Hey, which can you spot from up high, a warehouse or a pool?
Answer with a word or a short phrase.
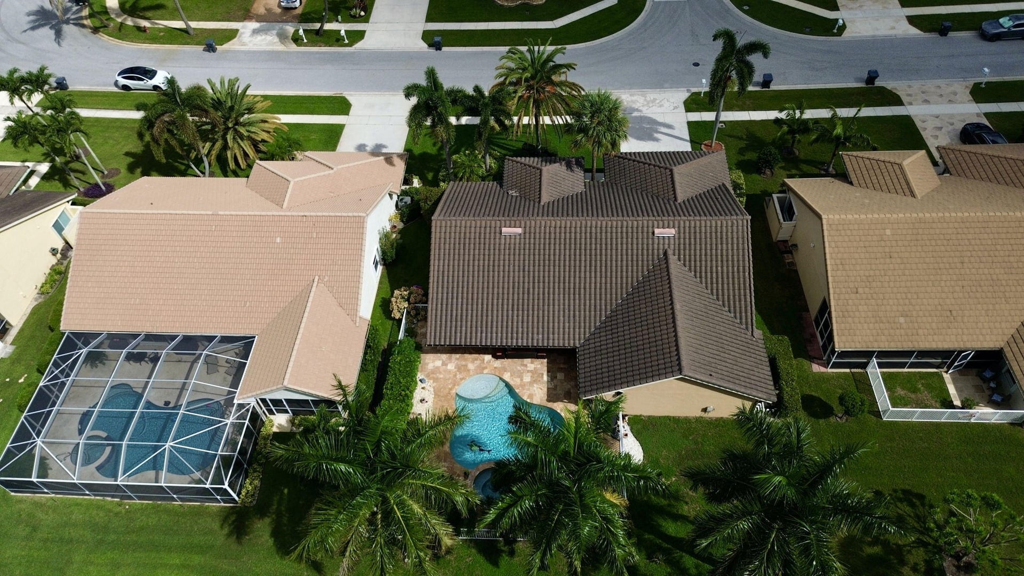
pool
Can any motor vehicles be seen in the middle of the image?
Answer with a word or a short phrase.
No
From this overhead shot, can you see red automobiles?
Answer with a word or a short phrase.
No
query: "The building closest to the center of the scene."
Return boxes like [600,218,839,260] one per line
[427,151,776,417]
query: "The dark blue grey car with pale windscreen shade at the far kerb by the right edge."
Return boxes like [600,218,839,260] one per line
[980,12,1024,40]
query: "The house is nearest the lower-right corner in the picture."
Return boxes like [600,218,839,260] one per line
[754,144,1024,442]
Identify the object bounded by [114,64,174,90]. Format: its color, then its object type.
white car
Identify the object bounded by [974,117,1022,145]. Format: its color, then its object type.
black car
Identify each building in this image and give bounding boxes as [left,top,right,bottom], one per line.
[58,151,409,417]
[754,144,1024,442]
[427,151,776,417]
